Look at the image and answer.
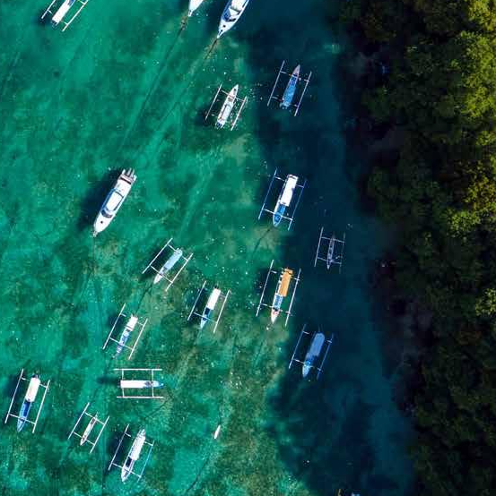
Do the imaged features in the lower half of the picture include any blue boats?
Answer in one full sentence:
Yes, there is a blue boat in the lower half of the picture.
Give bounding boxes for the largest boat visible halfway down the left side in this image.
[92,170,135,238]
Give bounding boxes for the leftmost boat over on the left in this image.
[5,371,50,433]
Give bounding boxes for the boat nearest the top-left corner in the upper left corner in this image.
[42,0,88,31]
